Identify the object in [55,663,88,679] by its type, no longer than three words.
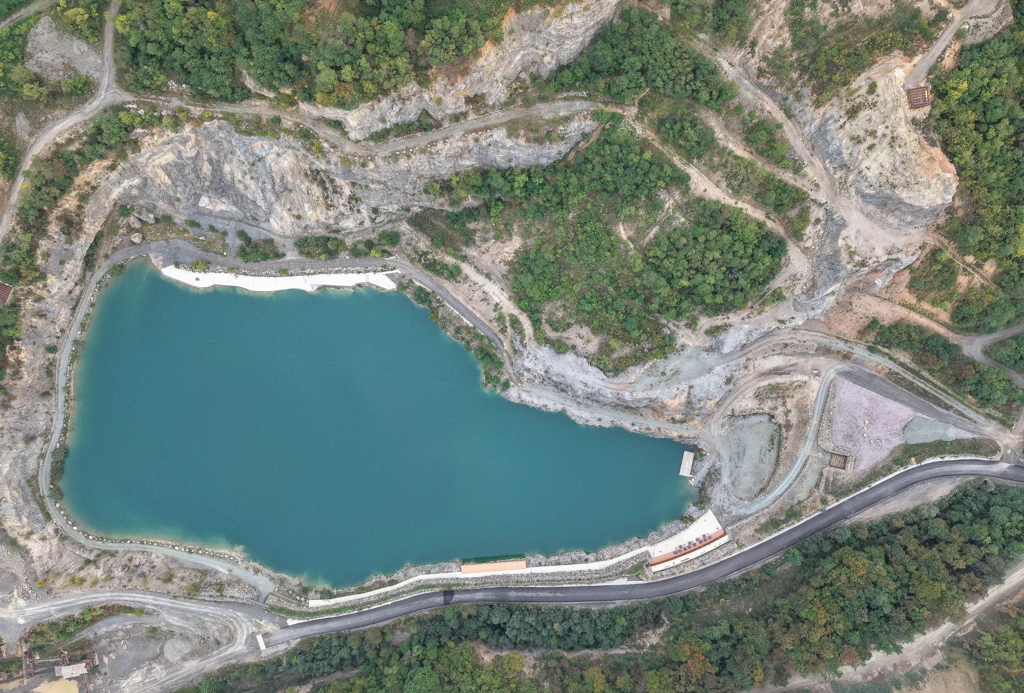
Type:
house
